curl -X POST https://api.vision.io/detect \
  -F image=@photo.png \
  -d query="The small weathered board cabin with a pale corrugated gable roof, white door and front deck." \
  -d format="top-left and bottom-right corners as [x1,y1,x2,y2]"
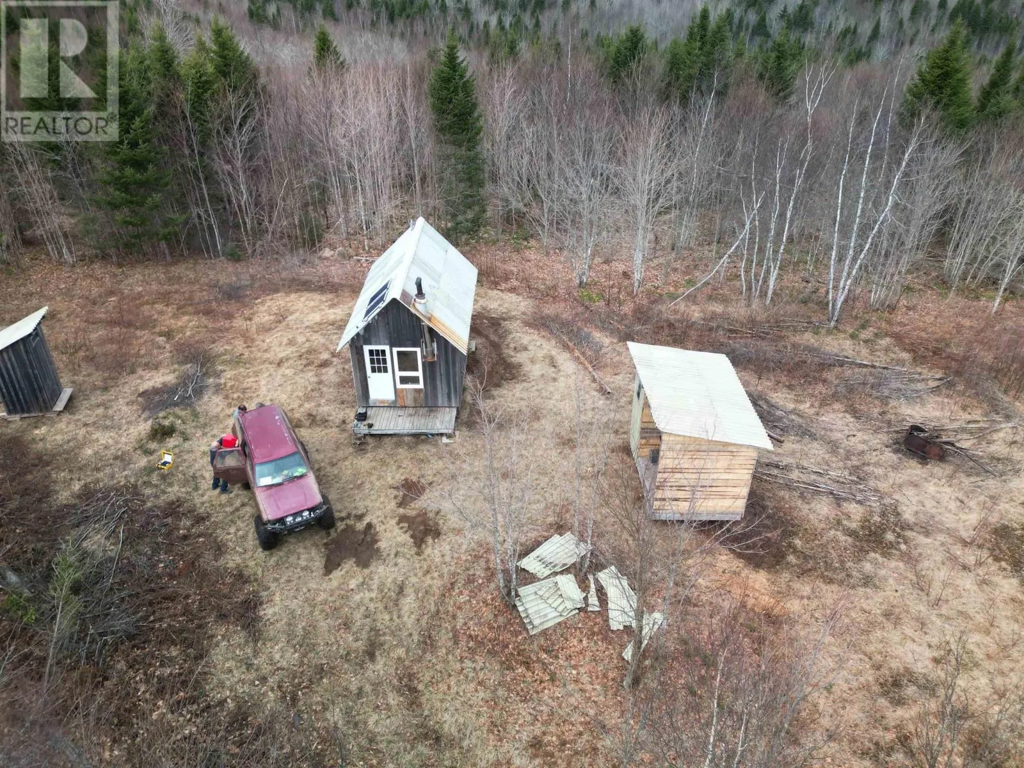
[337,212,476,438]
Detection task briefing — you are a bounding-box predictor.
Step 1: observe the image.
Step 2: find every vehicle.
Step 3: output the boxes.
[210,404,343,557]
